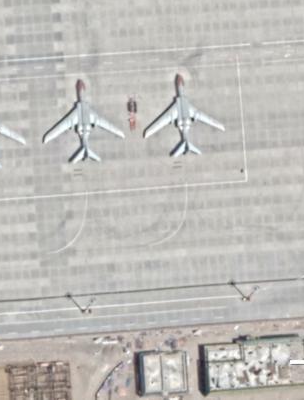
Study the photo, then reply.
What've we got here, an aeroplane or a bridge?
aeroplane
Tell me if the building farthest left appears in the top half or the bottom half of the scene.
bottom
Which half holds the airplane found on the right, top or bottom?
top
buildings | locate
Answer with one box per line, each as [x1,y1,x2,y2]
[139,351,189,400]
[201,338,304,396]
